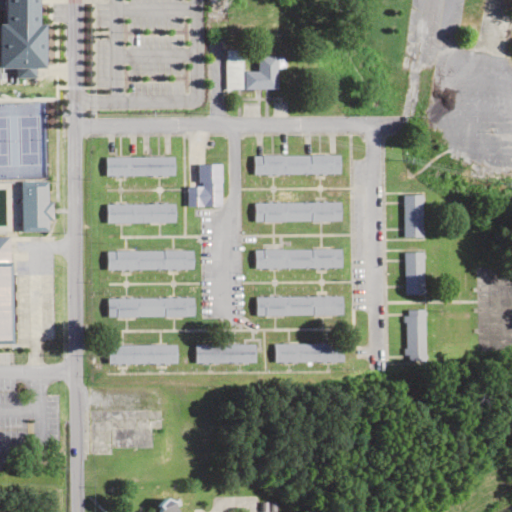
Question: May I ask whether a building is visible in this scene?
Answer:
Yes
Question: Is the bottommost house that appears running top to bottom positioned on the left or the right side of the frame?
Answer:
right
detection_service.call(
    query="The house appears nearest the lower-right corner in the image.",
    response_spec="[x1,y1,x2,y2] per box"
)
[404,310,428,362]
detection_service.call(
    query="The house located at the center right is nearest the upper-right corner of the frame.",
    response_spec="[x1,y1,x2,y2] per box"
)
[404,194,425,238]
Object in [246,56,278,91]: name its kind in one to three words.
house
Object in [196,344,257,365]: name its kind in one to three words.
building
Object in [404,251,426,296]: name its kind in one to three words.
house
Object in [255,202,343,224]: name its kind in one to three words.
building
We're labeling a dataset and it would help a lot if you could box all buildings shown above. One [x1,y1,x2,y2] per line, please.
[109,344,179,365]
[0,260,14,344]
[159,500,182,512]
[404,310,428,362]
[255,154,342,176]
[246,56,278,91]
[108,297,196,319]
[188,164,224,208]
[255,202,343,224]
[275,343,346,364]
[257,296,345,318]
[196,344,257,365]
[106,156,176,178]
[1,0,48,77]
[255,248,344,270]
[404,251,426,296]
[404,194,425,238]
[107,202,178,224]
[22,183,54,232]
[226,50,245,91]
[108,250,194,272]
